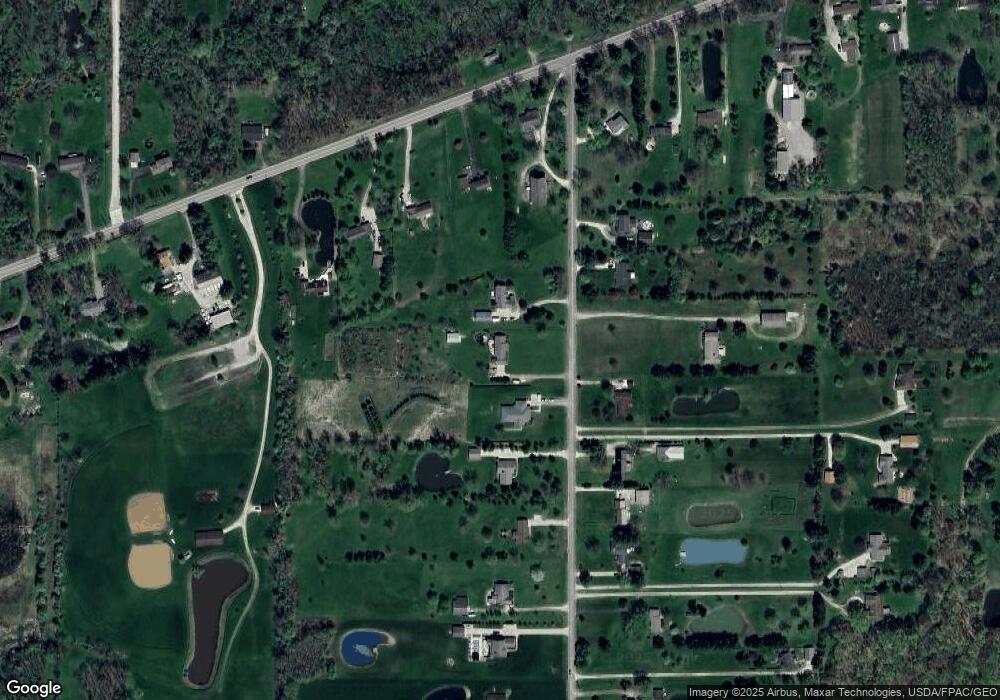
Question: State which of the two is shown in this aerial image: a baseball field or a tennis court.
baseball field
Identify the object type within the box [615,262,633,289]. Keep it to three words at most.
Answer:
house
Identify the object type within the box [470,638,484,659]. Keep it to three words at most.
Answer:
swimming pool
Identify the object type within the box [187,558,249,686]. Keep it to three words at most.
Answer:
pond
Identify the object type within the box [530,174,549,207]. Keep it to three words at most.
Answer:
barn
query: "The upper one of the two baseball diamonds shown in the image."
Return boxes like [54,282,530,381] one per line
[68,427,172,540]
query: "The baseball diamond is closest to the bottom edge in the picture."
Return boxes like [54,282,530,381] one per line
[70,540,178,639]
